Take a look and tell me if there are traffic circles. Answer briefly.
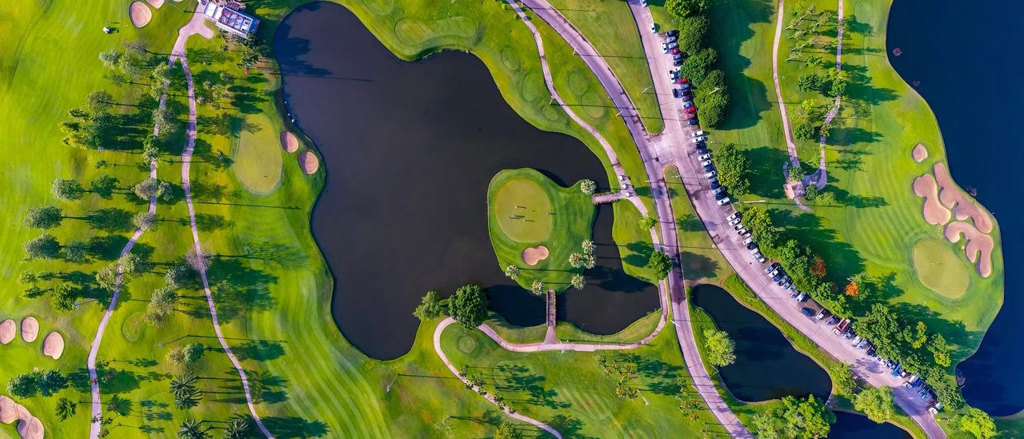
No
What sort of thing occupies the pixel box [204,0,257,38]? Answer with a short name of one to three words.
building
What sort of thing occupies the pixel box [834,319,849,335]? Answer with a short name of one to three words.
vehicle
